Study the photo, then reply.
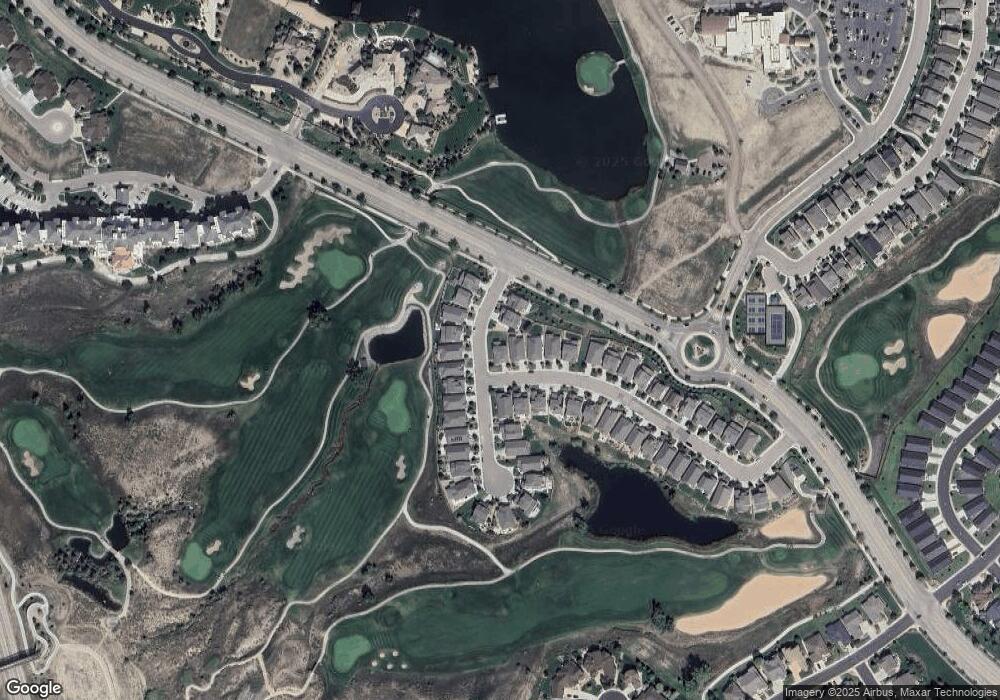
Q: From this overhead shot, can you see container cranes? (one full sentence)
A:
No, this view has no container crane in it.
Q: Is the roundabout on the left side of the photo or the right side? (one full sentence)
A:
It is on the right.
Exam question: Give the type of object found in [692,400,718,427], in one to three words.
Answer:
house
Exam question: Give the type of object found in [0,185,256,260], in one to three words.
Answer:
building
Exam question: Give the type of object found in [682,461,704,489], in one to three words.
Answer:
house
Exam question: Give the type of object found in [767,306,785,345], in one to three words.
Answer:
tennis court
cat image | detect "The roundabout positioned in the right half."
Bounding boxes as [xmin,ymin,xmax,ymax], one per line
[657,309,743,381]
